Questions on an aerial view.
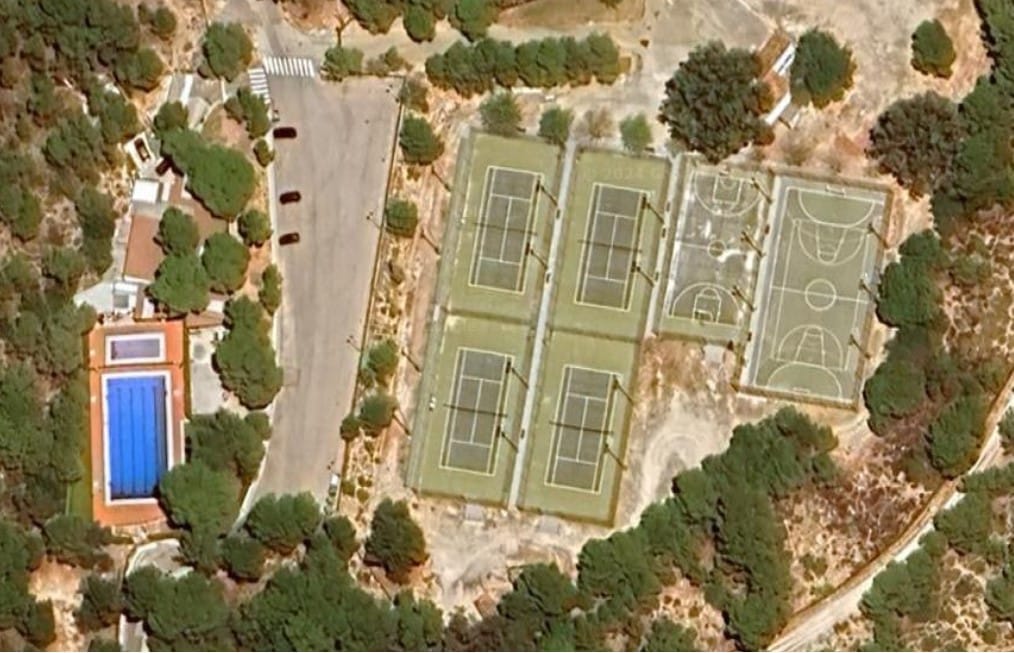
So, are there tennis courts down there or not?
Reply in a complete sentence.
Yes, there's a tennis court down there.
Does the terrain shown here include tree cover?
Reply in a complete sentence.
Yes, tree cover can be seen from above here.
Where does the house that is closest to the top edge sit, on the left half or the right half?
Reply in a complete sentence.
The house that is closest to the top edge is on the right side of the image.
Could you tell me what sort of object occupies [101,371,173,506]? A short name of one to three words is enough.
swimming pool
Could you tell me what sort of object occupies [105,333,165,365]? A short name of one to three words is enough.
swimming pool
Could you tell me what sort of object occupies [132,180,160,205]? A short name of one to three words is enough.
shed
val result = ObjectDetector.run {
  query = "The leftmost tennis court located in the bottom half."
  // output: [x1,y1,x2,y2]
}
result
[415,314,537,503]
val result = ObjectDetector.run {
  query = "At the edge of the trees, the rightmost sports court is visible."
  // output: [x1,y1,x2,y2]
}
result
[742,177,891,407]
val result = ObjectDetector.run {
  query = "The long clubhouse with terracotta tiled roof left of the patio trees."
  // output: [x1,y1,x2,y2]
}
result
[124,213,161,285]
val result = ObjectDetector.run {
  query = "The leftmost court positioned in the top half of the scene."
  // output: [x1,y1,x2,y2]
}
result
[443,137,564,323]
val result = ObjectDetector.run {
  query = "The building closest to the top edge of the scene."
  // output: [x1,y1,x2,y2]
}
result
[754,28,799,83]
